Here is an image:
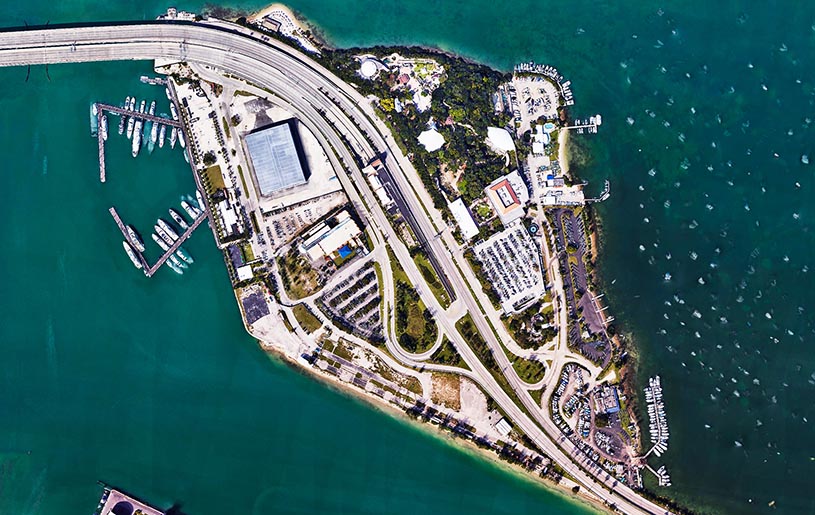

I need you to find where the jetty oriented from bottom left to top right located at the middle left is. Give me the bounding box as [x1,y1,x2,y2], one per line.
[147,210,207,275]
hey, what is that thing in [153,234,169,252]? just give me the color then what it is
white boat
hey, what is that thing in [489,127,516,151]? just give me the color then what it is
white tent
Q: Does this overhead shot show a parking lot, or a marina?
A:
marina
